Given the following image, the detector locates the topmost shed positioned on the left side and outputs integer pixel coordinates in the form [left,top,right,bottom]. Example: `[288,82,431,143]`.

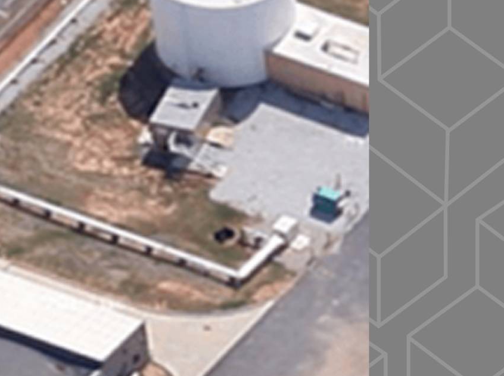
[150,85,219,157]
